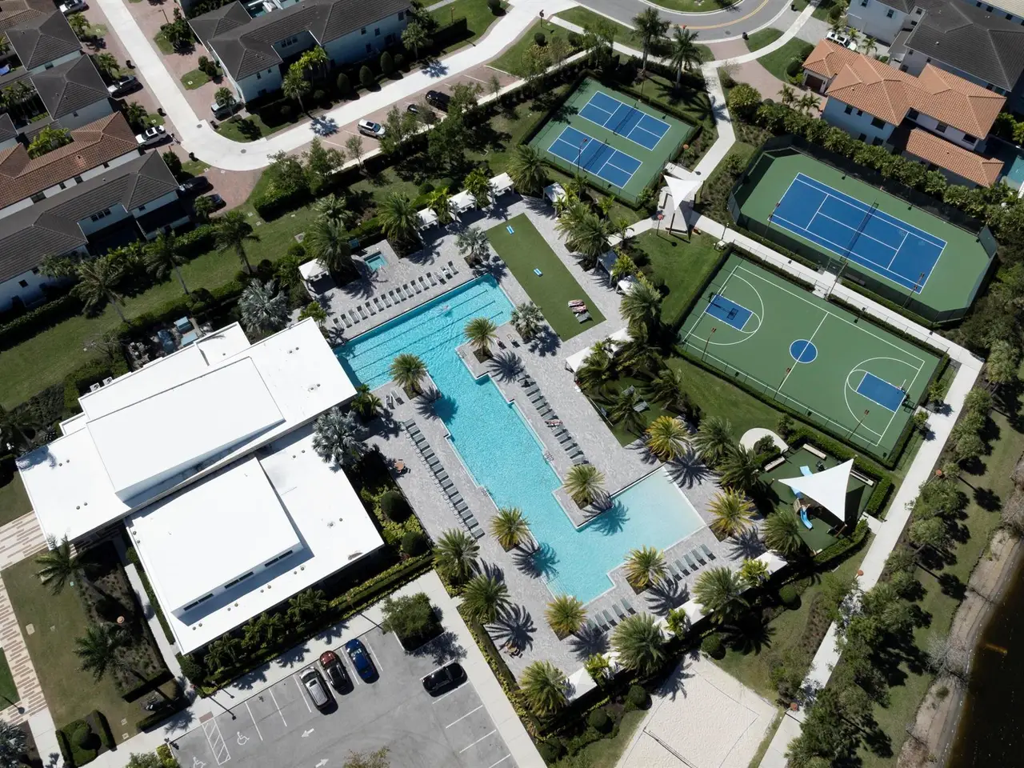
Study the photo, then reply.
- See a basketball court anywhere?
Yes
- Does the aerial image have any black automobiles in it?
Yes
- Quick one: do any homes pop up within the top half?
Yes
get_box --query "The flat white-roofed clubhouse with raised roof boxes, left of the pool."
[15,318,386,656]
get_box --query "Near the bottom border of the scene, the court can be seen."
[614,649,782,768]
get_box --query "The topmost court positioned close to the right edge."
[735,149,990,310]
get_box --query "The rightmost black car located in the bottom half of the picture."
[422,662,466,694]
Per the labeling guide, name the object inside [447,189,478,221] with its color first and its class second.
white tent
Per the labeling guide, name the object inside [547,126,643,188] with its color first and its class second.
blue sports court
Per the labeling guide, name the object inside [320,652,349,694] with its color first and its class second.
black car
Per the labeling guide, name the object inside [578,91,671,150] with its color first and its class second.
blue sports court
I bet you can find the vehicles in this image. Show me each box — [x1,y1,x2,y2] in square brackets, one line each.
[355,116,384,136]
[827,28,857,50]
[425,87,455,109]
[320,652,349,694]
[108,76,139,97]
[195,192,228,215]
[57,0,87,13]
[406,99,434,121]
[422,662,466,694]
[135,124,167,146]
[299,667,330,710]
[345,640,376,682]
[177,173,210,196]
